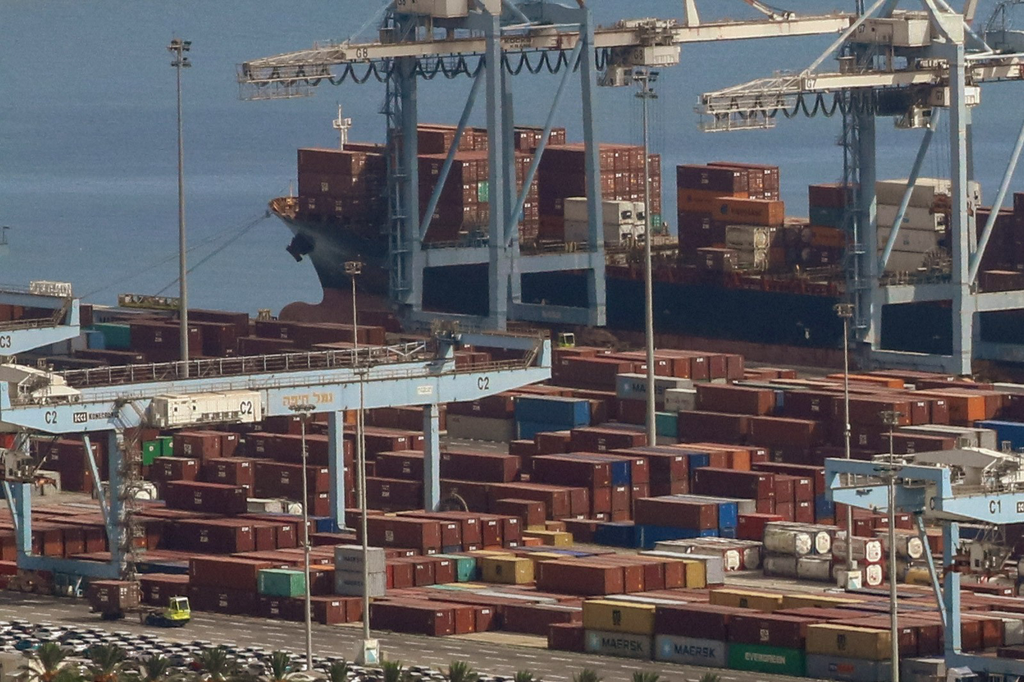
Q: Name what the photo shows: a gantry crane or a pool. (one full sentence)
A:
There is a gantry crane in the scene.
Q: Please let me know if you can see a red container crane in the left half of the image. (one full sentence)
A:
No, no red container crane can be made out in the left half of the image.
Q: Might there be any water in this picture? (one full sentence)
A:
Yes, there is water in the image.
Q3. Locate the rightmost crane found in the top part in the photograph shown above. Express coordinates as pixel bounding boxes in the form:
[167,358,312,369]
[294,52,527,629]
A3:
[687,0,1024,376]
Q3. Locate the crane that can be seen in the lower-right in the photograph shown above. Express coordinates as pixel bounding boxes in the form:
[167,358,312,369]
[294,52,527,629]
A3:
[817,432,1024,682]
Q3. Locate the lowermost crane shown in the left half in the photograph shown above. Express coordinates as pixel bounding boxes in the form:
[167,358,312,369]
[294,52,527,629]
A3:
[0,315,551,582]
